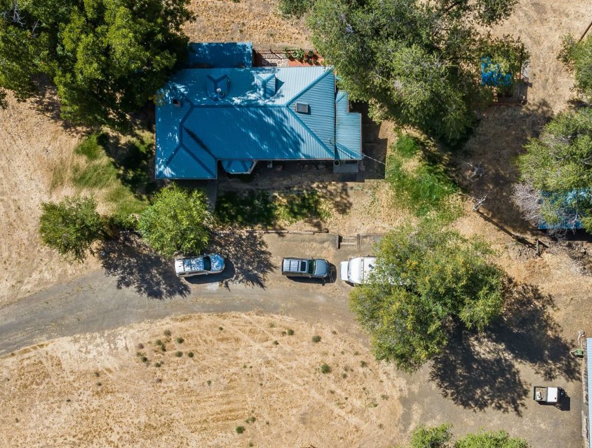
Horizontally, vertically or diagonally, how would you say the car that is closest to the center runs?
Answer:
horizontally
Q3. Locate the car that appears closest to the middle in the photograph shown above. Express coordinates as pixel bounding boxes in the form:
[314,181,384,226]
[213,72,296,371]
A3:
[282,257,330,280]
